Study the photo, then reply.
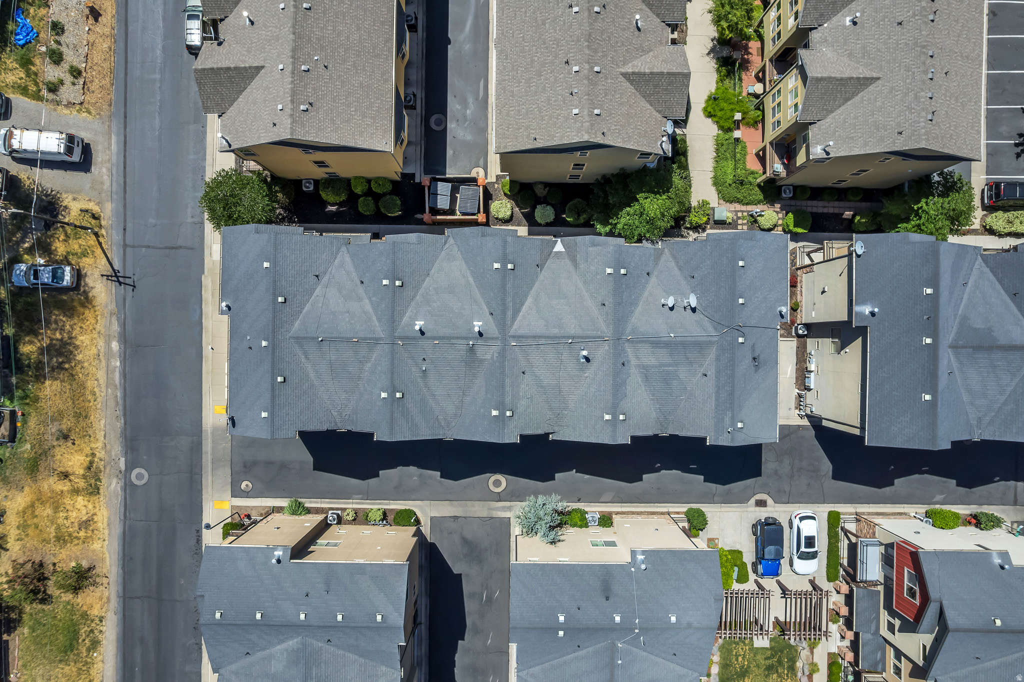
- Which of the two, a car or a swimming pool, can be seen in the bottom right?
car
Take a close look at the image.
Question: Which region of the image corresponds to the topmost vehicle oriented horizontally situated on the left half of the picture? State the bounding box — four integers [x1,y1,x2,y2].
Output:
[4,126,86,165]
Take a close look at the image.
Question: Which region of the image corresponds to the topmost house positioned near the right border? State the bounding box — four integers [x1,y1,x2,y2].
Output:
[750,0,984,188]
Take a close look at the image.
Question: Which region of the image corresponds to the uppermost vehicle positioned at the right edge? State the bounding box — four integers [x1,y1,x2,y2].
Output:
[983,180,1024,209]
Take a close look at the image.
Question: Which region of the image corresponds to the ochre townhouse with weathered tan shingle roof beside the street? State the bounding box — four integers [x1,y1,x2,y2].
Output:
[194,0,410,180]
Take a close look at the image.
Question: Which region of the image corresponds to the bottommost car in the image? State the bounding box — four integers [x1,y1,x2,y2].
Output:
[789,512,823,576]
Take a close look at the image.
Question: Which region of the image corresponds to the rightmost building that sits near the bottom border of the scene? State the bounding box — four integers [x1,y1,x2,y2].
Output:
[840,514,1024,682]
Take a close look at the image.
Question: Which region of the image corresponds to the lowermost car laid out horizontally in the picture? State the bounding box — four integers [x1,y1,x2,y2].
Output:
[15,258,80,289]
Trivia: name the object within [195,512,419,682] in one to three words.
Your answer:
house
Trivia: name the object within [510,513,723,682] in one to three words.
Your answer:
house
